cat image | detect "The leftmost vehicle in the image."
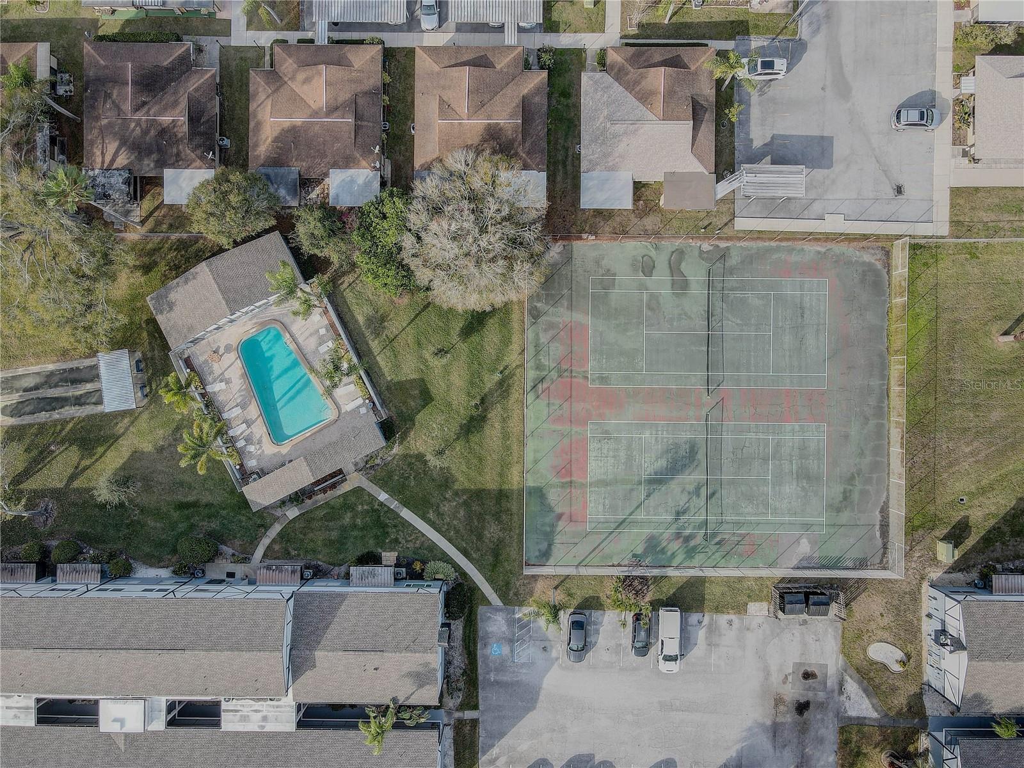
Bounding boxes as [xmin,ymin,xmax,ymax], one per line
[417,0,440,30]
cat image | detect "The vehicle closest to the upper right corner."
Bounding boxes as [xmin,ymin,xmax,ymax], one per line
[890,107,938,131]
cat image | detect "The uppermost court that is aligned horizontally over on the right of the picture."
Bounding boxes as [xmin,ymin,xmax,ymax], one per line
[525,243,889,404]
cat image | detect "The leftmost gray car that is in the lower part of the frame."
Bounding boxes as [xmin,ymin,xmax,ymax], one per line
[566,612,589,662]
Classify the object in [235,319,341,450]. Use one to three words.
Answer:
swimming pool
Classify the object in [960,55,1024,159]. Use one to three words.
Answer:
house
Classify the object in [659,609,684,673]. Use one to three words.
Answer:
truck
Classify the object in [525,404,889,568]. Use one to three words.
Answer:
tennis court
